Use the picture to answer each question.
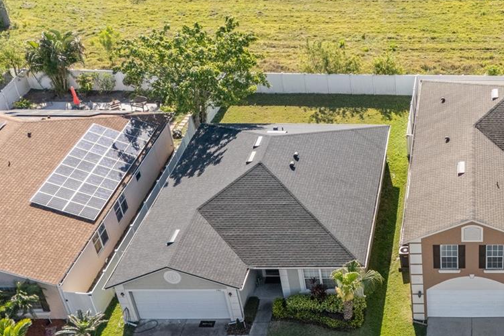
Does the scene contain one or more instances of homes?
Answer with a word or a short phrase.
Yes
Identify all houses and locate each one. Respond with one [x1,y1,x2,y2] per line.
[399,81,504,320]
[0,110,174,324]
[103,124,392,327]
